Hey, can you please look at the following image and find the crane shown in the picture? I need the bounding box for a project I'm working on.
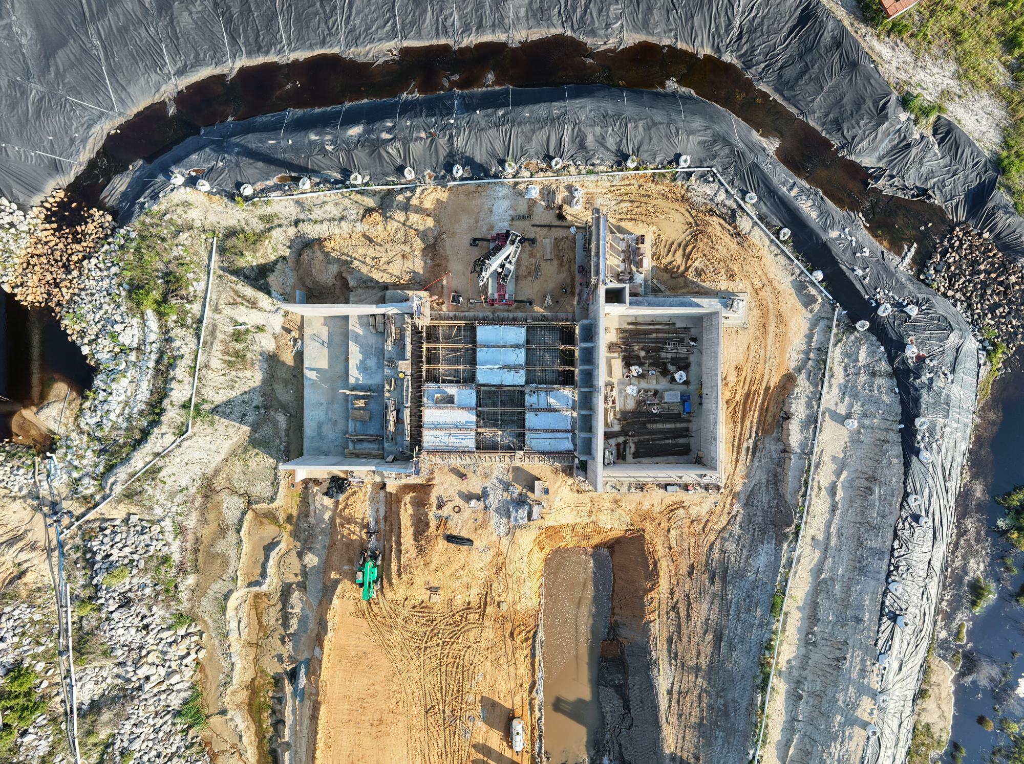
[467,220,540,308]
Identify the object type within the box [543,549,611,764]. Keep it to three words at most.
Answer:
pond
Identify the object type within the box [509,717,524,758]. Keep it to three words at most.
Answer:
vehicle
